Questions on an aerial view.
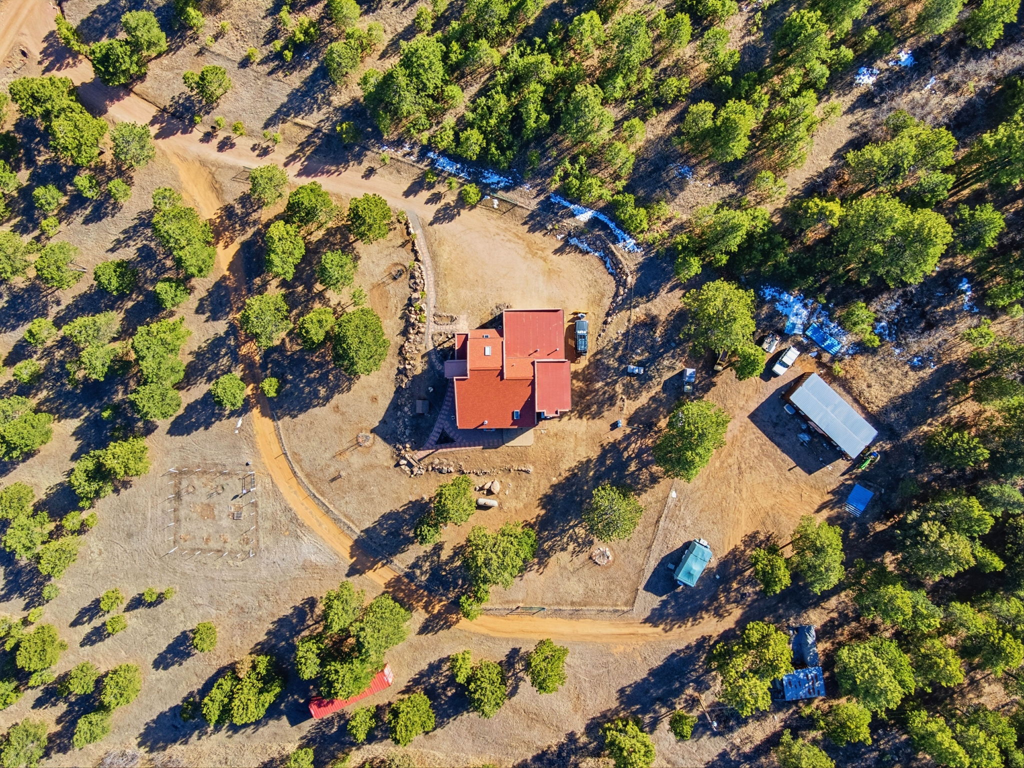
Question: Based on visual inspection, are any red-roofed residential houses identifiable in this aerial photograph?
Yes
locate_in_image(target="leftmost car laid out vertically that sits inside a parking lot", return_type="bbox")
[575,321,590,357]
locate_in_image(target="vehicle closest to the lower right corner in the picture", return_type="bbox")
[862,450,884,472]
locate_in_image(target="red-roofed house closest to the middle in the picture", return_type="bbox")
[445,308,570,430]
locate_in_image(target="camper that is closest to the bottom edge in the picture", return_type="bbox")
[675,540,709,582]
